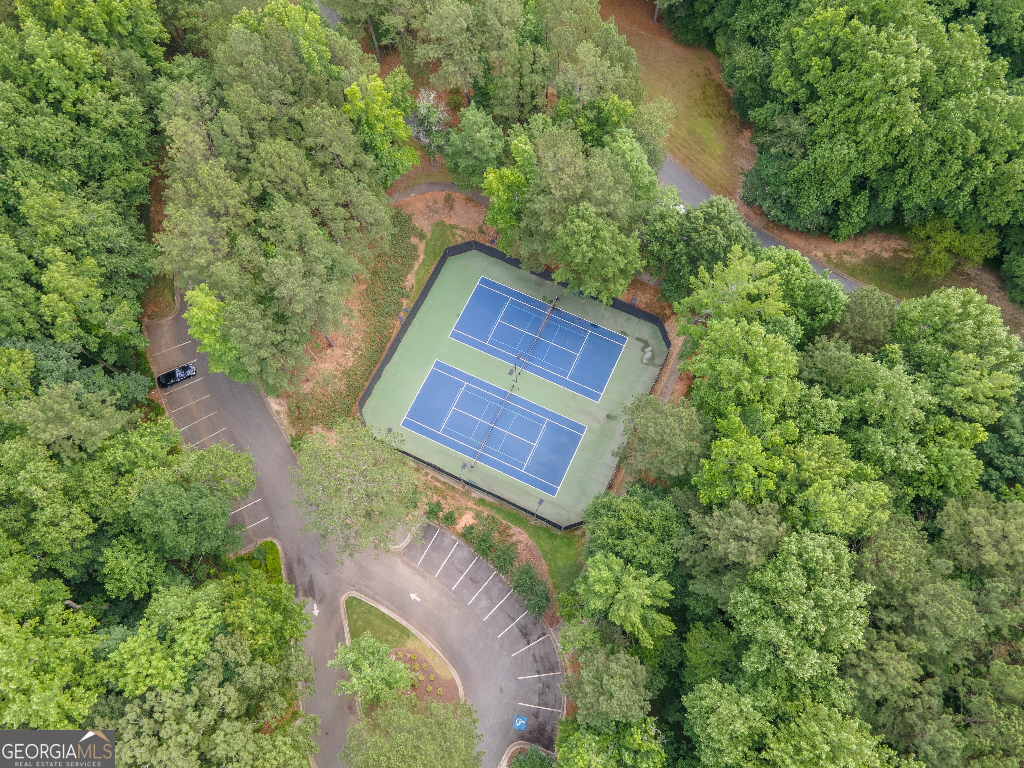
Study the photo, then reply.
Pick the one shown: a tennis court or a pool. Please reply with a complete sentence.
Looking from above, you can make out a tennis court.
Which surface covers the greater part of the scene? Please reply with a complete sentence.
The bulk of the photo consists of trees.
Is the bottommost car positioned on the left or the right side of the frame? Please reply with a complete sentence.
You can find the bottommost car on the left side of the picture.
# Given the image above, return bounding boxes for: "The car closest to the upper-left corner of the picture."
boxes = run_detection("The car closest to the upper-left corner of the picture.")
[158,365,195,387]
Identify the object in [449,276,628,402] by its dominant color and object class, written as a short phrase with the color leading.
blue tennis court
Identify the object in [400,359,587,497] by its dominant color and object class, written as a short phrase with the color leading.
blue tennis court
